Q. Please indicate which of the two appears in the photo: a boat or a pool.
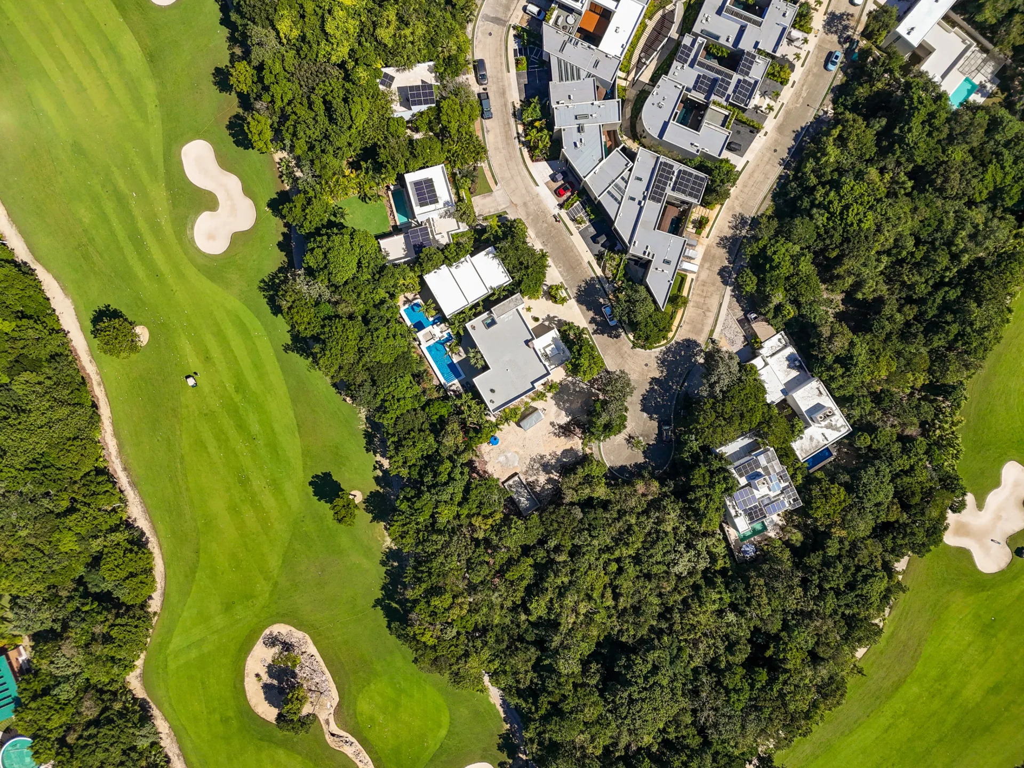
pool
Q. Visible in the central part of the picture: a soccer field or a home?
home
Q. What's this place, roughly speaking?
golf course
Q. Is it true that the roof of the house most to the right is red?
No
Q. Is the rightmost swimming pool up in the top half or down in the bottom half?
top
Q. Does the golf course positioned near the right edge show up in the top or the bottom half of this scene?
bottom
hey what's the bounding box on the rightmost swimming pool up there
[947,75,982,110]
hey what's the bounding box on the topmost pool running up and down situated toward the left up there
[390,188,410,225]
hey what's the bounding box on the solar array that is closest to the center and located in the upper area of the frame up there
[409,226,432,254]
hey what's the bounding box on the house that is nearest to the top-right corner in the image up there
[879,0,976,88]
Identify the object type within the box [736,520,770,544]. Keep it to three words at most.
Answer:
swimming pool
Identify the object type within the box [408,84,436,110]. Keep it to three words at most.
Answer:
solar array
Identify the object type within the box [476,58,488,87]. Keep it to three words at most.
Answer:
vehicle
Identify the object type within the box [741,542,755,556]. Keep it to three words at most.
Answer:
umbrella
